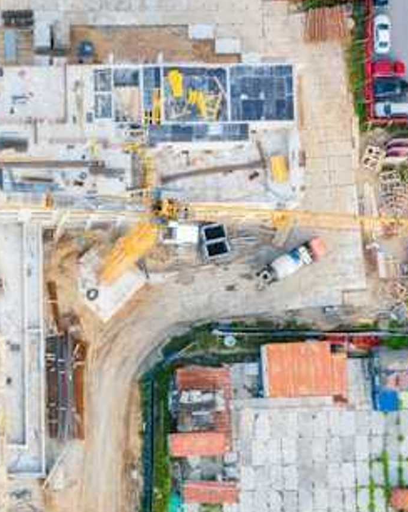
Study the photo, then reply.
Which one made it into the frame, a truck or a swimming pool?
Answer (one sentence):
It is a truck that can be seen here.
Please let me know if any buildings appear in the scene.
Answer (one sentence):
Yes, there's a building here.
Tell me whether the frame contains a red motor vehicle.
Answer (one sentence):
Yes, there's a red motor vehicle here.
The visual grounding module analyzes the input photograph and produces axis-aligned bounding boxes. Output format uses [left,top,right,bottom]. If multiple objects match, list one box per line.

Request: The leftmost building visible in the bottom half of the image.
[0,207,138,475]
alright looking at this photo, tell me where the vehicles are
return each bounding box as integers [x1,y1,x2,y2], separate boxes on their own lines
[376,13,396,52]
[377,97,408,117]
[259,229,337,288]
[377,55,408,76]
[377,74,408,96]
